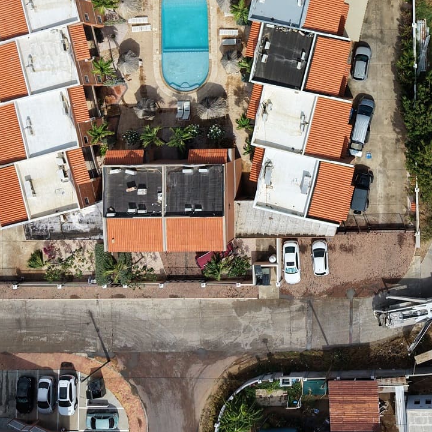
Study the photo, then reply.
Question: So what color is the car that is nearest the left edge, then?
black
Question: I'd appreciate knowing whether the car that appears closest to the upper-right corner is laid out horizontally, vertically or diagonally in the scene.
vertically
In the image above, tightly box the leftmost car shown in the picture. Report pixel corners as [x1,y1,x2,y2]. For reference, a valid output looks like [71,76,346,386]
[14,374,36,413]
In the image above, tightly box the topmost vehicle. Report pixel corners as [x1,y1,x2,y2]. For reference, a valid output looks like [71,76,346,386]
[352,42,374,82]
